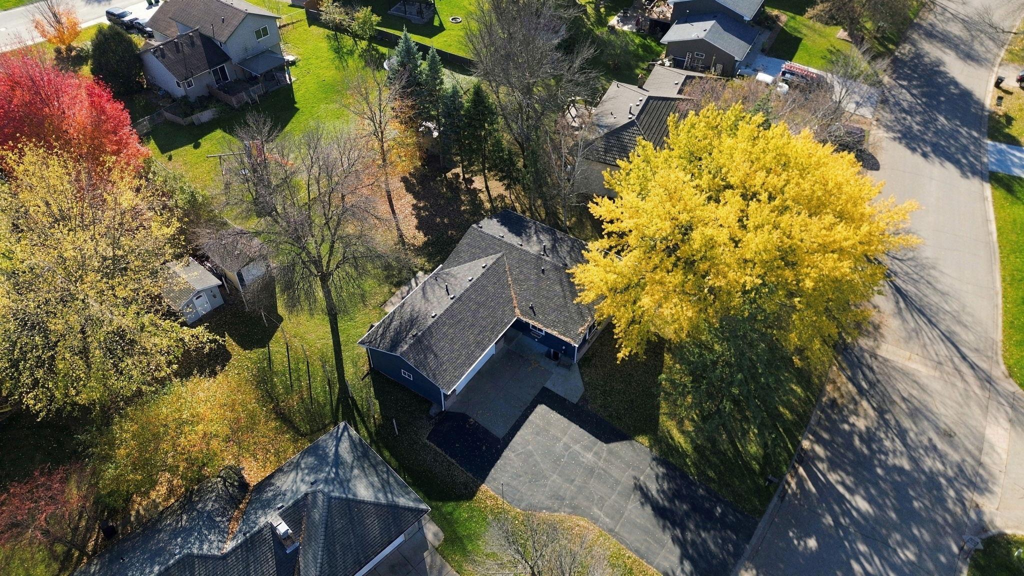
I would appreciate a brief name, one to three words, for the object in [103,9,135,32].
car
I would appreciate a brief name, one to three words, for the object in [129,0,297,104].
house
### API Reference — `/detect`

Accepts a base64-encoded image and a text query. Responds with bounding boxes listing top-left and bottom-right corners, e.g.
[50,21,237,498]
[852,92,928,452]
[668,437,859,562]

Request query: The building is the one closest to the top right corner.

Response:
[641,0,763,75]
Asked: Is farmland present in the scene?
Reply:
No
